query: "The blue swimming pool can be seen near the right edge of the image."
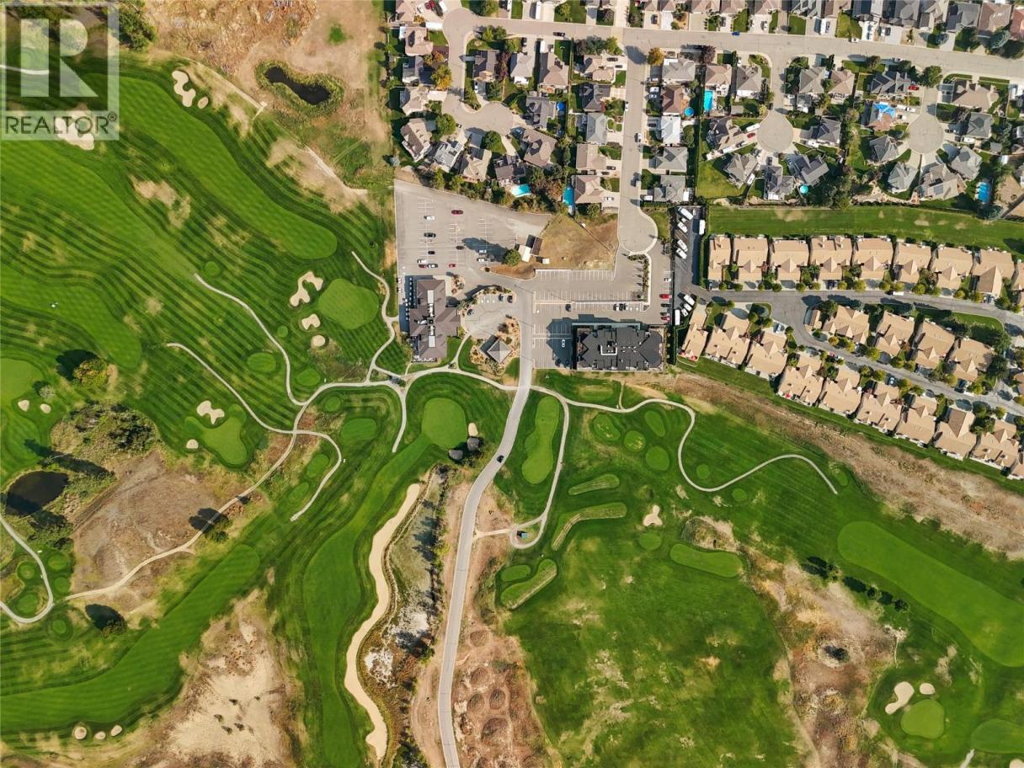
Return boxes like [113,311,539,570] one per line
[977,180,992,201]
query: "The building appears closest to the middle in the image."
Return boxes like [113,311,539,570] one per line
[486,337,513,364]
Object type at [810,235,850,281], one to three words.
house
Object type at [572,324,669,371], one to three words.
building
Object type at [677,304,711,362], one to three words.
house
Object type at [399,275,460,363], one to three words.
building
